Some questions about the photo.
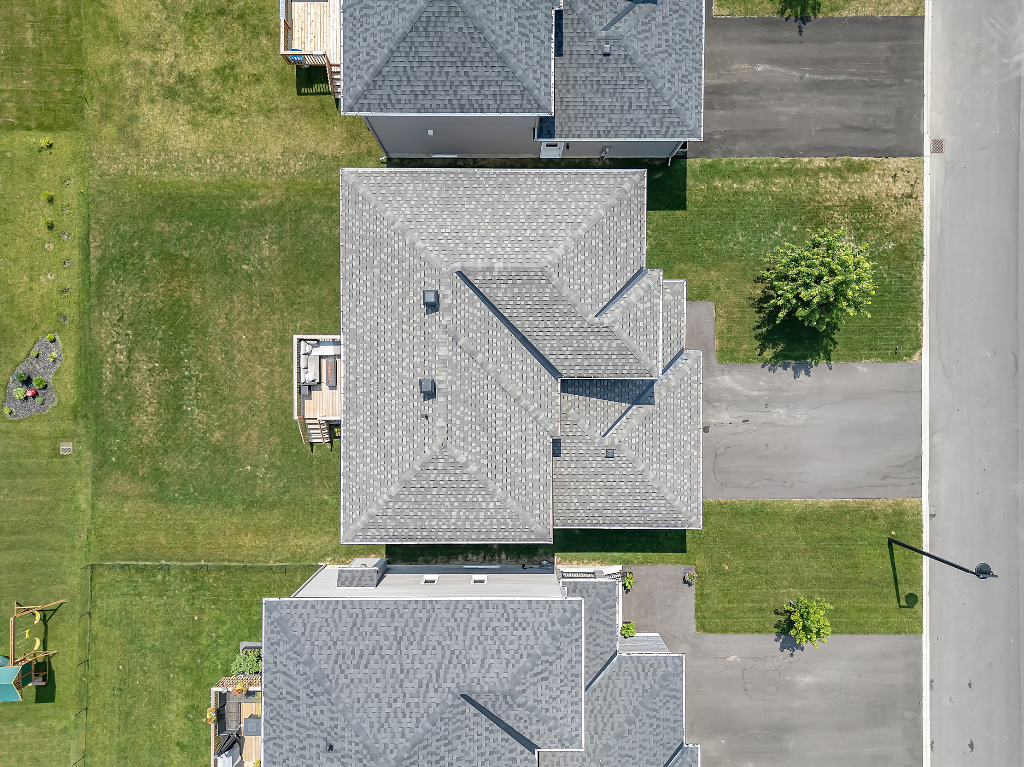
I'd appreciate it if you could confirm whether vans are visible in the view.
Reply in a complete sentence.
No, I can't see a single van in this photo.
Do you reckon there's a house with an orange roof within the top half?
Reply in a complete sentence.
No, no house with an orange roof appears within the top half.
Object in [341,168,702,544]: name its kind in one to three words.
house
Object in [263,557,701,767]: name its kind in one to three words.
house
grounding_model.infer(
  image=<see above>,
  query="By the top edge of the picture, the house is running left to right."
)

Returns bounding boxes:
[343,0,703,173]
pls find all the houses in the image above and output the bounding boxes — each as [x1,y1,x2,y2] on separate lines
[341,168,702,544]
[343,0,703,173]
[263,557,701,767]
